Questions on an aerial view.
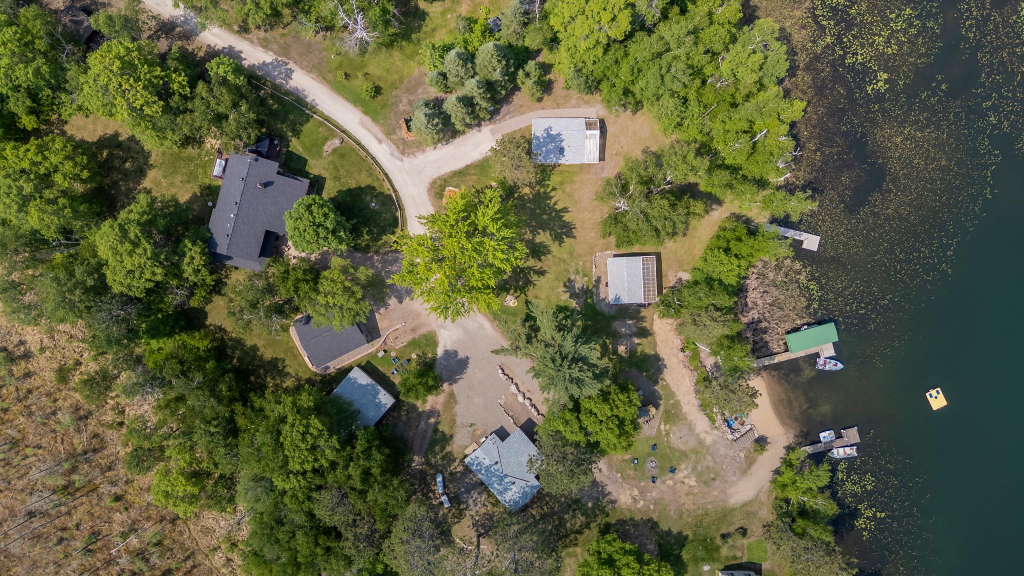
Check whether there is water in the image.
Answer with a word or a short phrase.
Yes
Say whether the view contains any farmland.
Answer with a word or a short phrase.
No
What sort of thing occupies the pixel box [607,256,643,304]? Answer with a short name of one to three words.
building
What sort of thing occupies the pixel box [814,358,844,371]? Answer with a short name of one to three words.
boat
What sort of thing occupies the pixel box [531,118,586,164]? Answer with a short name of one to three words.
building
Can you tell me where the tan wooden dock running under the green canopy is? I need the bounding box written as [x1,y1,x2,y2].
[746,342,836,369]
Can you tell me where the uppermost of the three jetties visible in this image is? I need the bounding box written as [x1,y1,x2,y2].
[766,225,820,251]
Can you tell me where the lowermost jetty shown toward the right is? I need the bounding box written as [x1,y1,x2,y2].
[802,427,861,455]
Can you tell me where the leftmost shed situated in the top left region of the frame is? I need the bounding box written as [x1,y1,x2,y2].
[59,3,99,46]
